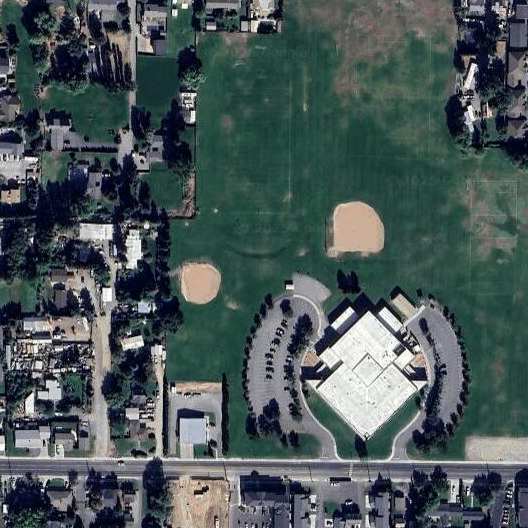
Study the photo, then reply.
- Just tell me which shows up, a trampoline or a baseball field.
baseball field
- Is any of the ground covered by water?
No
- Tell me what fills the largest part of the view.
grass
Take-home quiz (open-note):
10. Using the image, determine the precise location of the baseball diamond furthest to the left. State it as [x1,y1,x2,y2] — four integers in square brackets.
[170,261,223,305]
